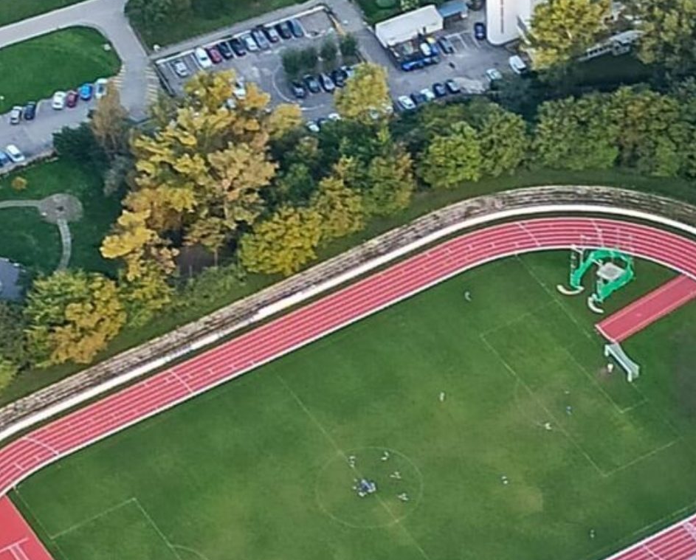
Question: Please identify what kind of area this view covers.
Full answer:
This image shows a sports ground.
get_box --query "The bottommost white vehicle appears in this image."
[5,144,25,162]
